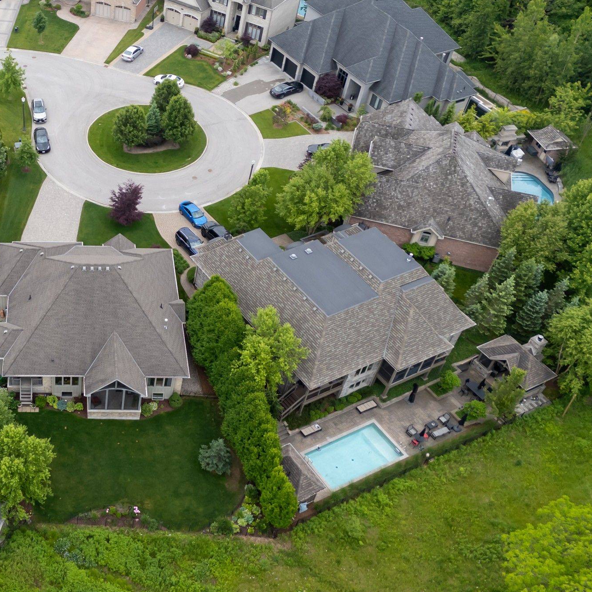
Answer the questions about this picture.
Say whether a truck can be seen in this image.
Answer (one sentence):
No, the photo shows no truck.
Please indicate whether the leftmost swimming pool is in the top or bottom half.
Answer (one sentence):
The leftmost swimming pool sits in the bottom half of the picture.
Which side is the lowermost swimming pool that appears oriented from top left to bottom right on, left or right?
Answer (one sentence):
The lowermost swimming pool that appears oriented from top left to bottom right is on the right side of the image.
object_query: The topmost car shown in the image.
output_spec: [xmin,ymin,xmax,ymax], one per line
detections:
[122,42,148,60]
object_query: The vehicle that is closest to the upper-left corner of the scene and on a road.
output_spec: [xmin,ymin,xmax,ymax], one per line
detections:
[32,94,47,120]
